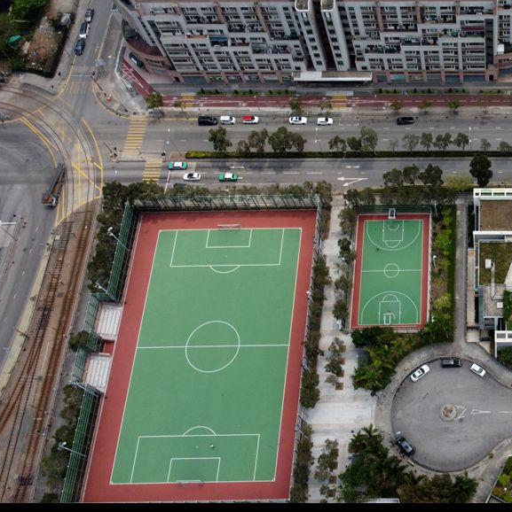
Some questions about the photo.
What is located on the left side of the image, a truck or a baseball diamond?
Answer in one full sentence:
Visible on the left side of the image is a truck.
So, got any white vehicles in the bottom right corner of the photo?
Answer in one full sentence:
Yes, there is a white vehicle in the bottom right corner of the photo.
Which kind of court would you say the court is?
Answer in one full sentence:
Specifically, the court is a basketball court.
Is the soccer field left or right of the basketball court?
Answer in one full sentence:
The soccer field can be seen on the left of the basketball court.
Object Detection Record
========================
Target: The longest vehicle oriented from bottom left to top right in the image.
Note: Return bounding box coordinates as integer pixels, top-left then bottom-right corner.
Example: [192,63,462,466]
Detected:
[38,165,71,207]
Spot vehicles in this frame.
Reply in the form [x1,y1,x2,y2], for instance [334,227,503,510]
[396,434,413,455]
[316,117,333,125]
[218,115,238,125]
[198,116,217,125]
[74,41,87,54]
[469,362,487,377]
[168,162,187,170]
[38,165,71,207]
[169,183,188,191]
[441,358,461,368]
[243,116,259,124]
[290,116,307,125]
[219,173,238,181]
[78,24,91,38]
[397,116,414,125]
[410,365,430,382]
[183,172,203,181]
